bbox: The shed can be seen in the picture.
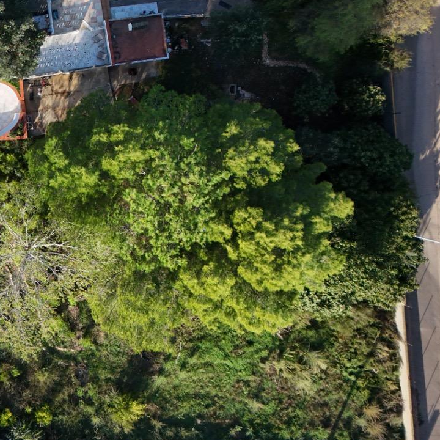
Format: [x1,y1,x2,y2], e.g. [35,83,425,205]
[104,13,170,68]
